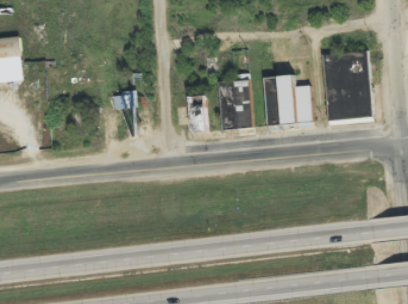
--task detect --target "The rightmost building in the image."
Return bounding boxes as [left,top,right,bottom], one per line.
[322,50,374,124]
